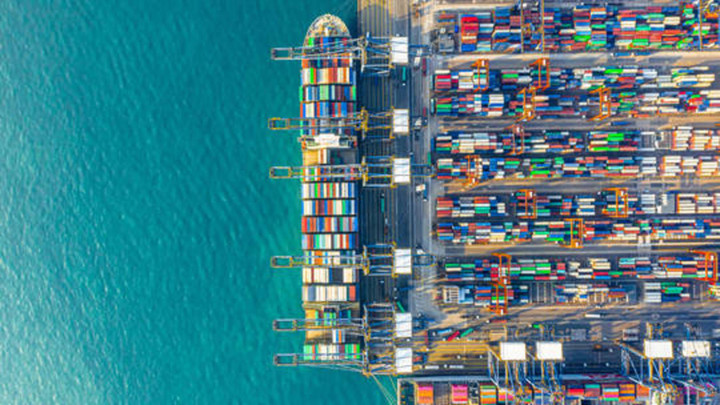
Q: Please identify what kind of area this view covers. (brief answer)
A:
port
